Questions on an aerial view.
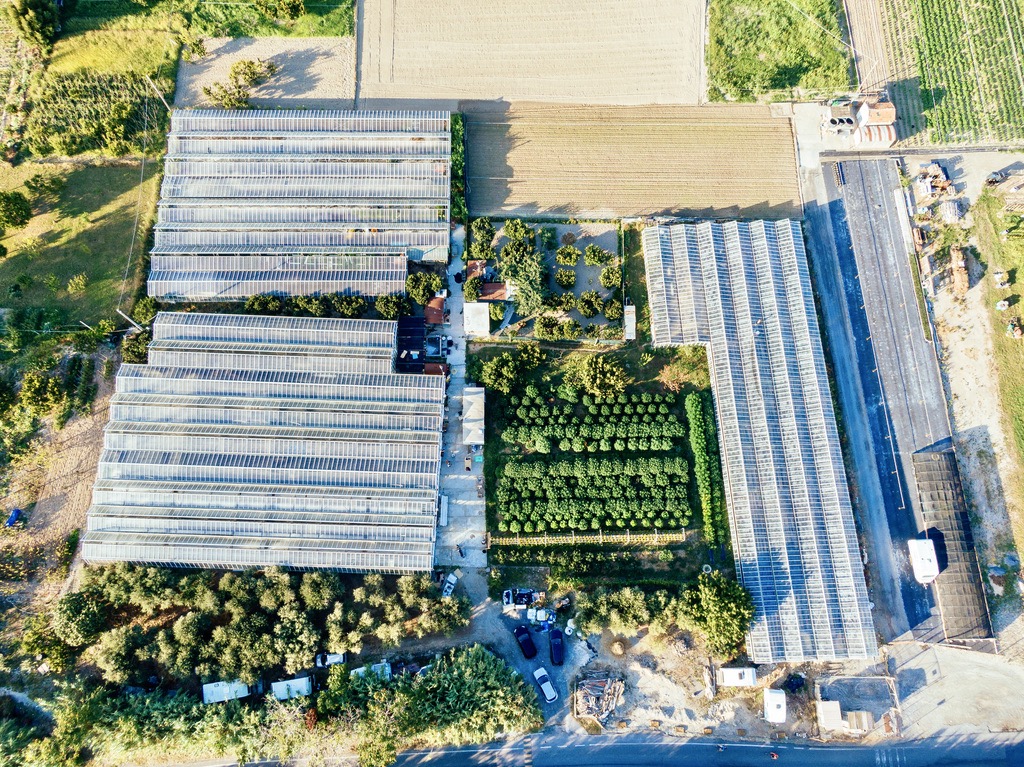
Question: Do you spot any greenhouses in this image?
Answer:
Yes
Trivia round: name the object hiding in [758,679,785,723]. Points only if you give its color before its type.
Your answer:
white camper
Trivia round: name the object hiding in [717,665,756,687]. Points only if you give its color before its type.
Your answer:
white camper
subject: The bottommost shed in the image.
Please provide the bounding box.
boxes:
[814,699,841,729]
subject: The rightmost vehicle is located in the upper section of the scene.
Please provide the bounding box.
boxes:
[986,164,1010,186]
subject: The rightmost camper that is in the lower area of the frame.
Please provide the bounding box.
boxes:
[905,540,942,593]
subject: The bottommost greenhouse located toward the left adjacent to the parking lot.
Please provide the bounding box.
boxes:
[80,312,447,571]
